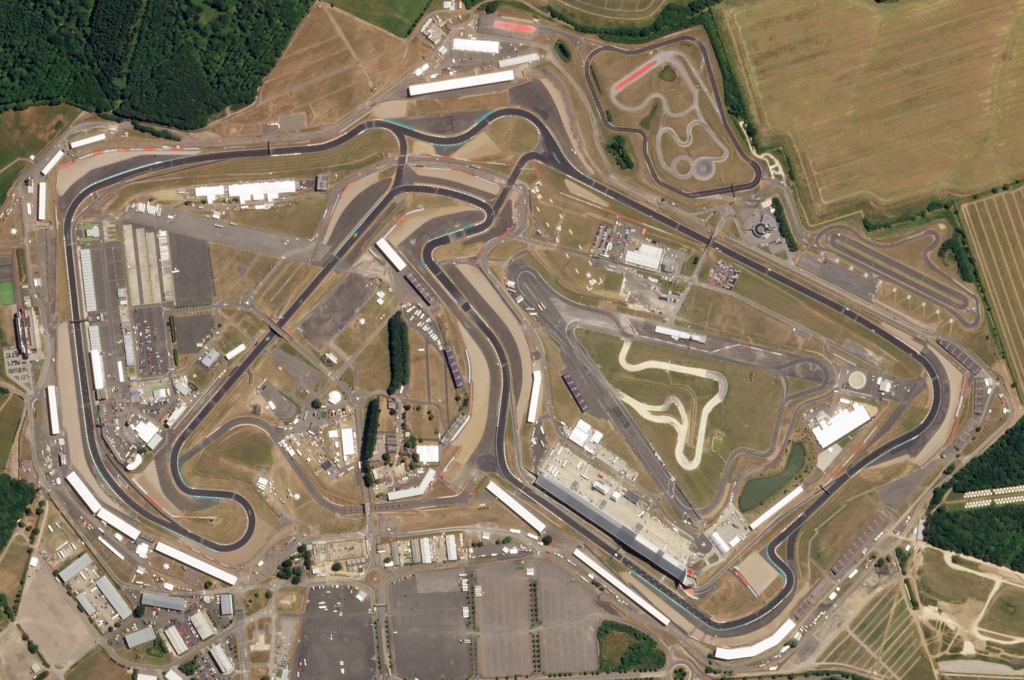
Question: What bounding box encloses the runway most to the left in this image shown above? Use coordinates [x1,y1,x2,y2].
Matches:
[98,208,330,266]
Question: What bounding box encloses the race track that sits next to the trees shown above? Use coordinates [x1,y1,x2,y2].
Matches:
[64,106,941,629]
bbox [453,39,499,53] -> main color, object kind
white tent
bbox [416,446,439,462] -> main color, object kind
white tent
